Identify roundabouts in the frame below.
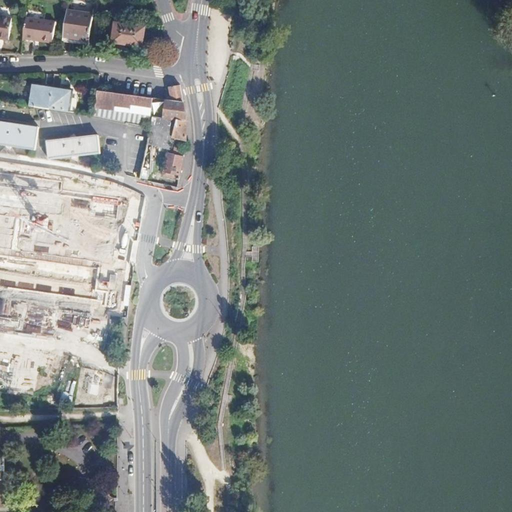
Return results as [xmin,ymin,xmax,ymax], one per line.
[132,252,218,352]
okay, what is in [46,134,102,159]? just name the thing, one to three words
building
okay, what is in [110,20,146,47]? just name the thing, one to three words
house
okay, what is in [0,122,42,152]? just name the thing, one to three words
building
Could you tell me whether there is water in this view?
Yes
